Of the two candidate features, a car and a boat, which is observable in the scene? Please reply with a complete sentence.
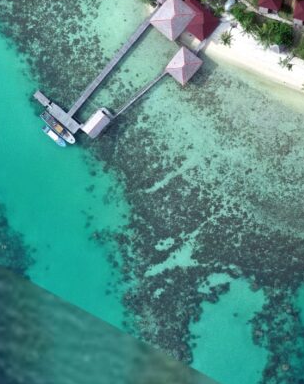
This aerial view contains a boat.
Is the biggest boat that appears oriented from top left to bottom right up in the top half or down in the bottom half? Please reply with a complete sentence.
The biggest boat that appears oriented from top left to bottom right is in the top half of the image.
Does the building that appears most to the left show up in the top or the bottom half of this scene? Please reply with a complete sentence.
The building that appears most to the left sits in the top half of the picture.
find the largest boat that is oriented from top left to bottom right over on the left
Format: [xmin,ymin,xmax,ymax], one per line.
[40,110,75,143]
